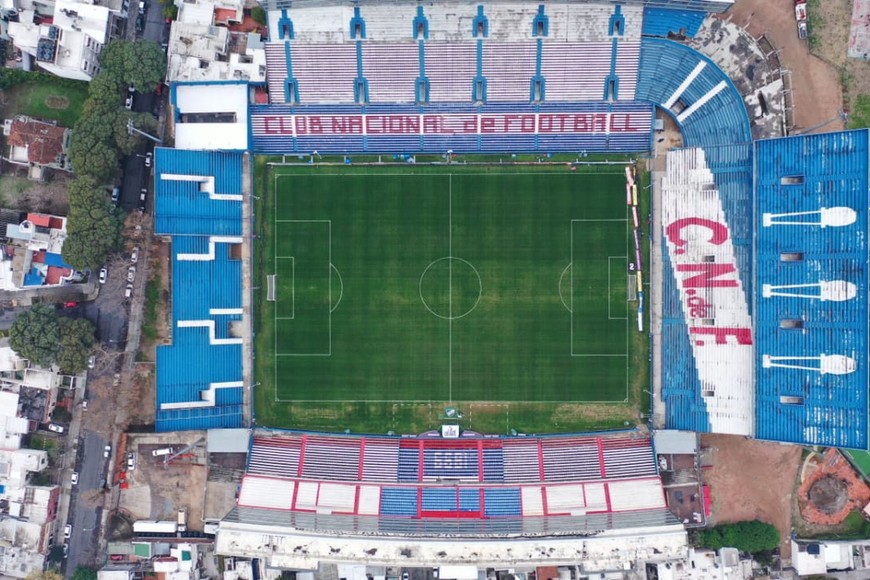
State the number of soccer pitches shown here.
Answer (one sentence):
There is 1 soccer pitch in the image.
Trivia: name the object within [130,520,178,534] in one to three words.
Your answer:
trailer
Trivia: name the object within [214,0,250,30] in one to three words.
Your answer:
house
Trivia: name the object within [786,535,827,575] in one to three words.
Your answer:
house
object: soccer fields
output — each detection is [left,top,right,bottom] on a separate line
[250,156,656,440]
